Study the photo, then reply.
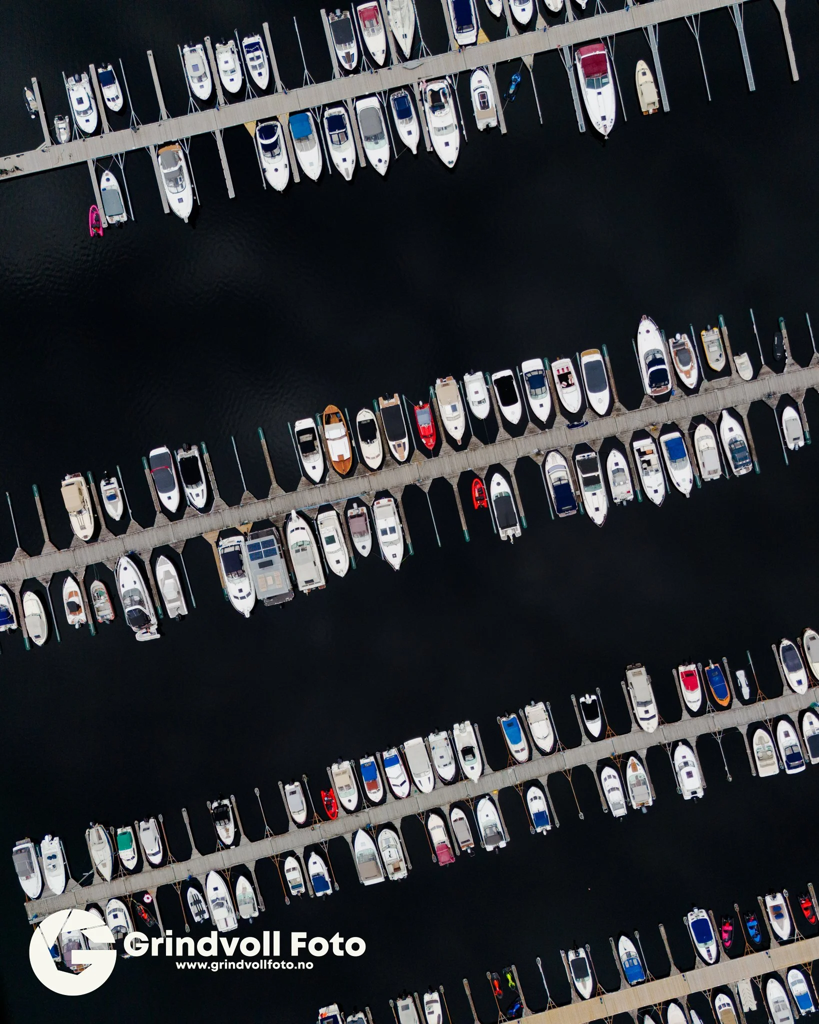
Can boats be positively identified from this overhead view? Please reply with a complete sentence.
Yes, this view includes a boat.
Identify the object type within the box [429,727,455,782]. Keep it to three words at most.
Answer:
boat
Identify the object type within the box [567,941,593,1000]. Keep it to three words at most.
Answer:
boat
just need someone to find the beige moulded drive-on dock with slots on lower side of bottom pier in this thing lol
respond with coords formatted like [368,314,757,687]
[738,978,757,1011]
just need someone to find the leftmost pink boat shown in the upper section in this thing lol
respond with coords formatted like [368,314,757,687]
[88,205,103,237]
